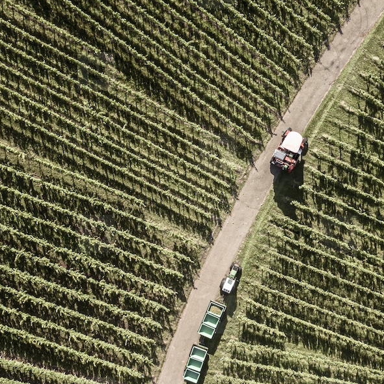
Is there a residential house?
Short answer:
No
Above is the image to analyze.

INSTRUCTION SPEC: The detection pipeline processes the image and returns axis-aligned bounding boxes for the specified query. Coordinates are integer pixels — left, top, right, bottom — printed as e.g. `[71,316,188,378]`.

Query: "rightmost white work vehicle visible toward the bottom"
[219,260,242,295]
